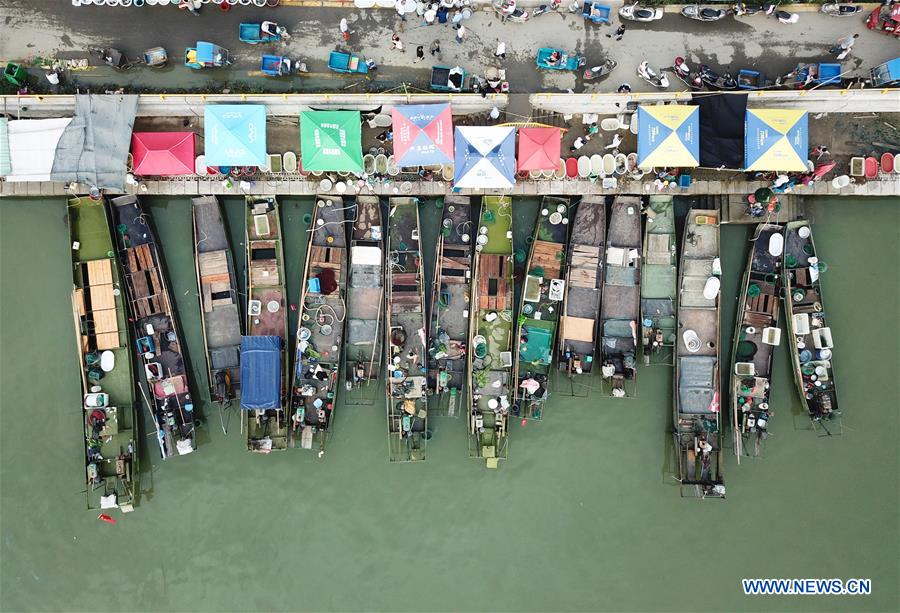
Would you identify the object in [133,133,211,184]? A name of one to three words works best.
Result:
tent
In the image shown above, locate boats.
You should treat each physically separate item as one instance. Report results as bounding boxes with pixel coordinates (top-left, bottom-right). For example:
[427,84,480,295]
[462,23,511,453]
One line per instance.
[468,197,514,468]
[728,223,785,458]
[67,197,140,508]
[345,197,386,405]
[240,196,289,450]
[599,196,642,397]
[559,196,606,397]
[386,197,428,462]
[640,196,677,366]
[109,196,200,461]
[509,197,570,420]
[290,196,348,451]
[672,208,726,498]
[427,197,471,417]
[192,196,245,434]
